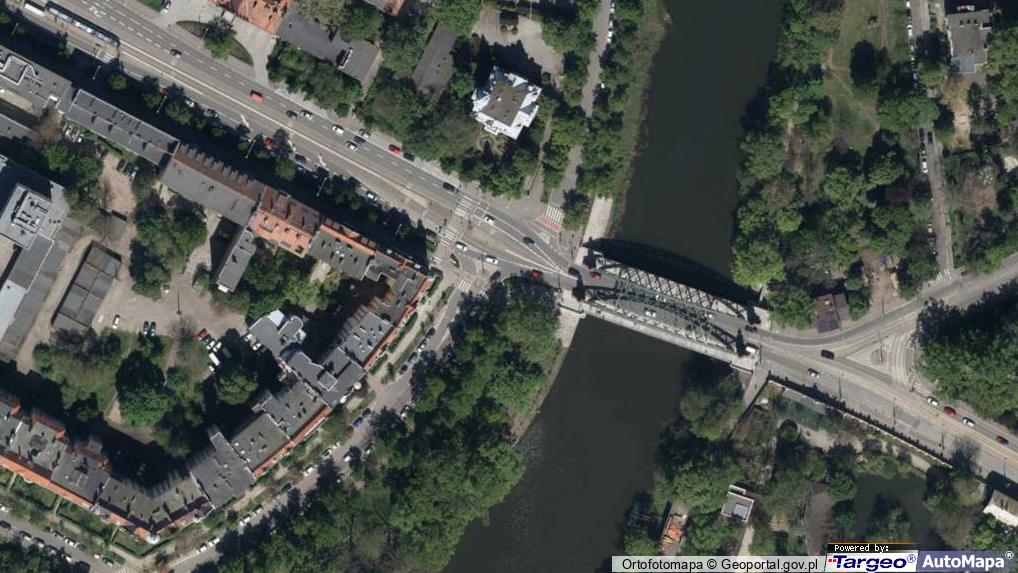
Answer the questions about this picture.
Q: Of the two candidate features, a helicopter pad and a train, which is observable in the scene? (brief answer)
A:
train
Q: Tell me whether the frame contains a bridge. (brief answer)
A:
Yes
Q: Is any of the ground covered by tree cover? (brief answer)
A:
Yes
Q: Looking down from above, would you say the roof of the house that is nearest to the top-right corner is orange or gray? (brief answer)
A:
gray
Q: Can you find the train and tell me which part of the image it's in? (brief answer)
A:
top left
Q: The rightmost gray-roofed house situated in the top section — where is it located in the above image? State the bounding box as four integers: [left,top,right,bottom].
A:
[944,5,991,74]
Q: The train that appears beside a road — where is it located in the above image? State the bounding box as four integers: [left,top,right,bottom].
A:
[44,1,117,44]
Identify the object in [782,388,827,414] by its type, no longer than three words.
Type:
building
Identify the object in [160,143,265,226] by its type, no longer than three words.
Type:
house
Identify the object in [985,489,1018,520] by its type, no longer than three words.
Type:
house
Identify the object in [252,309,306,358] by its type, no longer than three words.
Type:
building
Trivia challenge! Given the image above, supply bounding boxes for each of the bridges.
[570,258,761,365]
